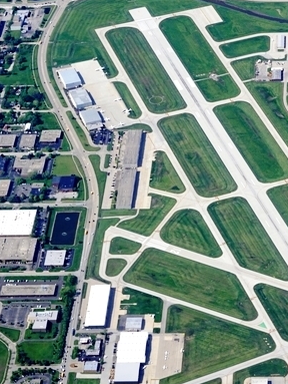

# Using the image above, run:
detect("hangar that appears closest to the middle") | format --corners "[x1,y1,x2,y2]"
[117,169,137,211]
